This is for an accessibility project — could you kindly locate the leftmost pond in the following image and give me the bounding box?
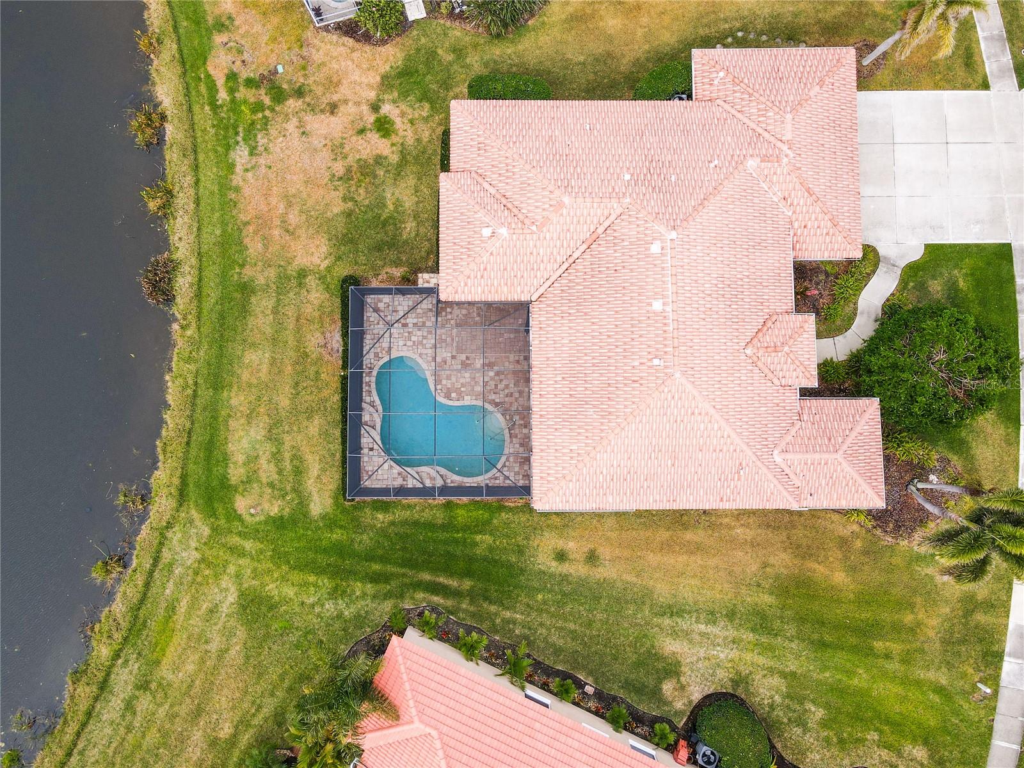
[0,0,178,768]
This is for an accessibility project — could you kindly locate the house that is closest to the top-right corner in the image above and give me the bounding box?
[438,45,887,513]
